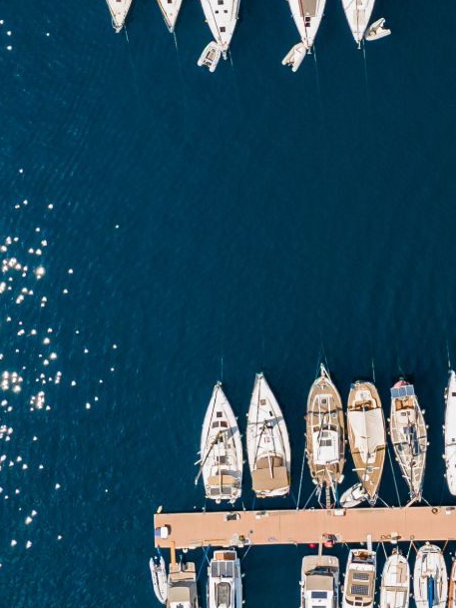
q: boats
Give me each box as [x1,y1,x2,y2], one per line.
[340,535,379,608]
[283,43,305,72]
[194,376,246,508]
[377,540,413,608]
[158,540,210,608]
[297,360,348,515]
[202,0,240,59]
[386,370,432,509]
[199,41,221,72]
[339,0,375,53]
[411,541,449,608]
[245,367,297,508]
[365,20,392,42]
[339,483,368,509]
[203,546,251,608]
[148,558,167,604]
[297,534,344,608]
[286,0,325,57]
[344,369,399,510]
[440,366,456,505]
